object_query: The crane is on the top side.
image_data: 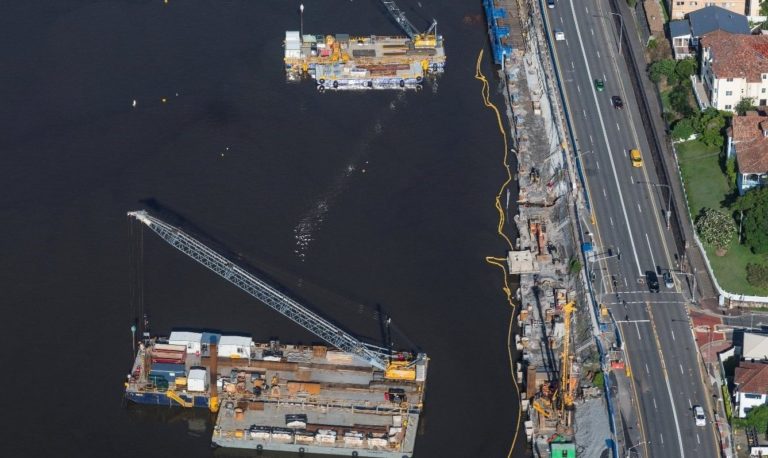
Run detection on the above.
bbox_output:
[372,0,443,58]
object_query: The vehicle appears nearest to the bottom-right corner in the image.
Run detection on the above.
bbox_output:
[692,408,706,425]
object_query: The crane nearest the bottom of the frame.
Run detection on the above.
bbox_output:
[125,208,428,391]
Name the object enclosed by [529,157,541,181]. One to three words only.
vehicle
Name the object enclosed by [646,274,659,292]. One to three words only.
vehicle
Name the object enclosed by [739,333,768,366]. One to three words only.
building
